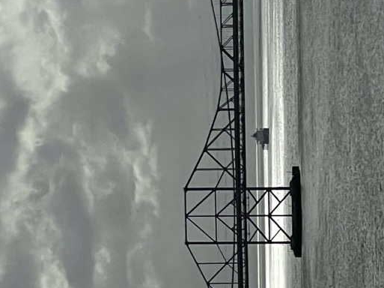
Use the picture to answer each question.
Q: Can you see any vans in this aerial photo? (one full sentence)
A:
No, no van is visible in the view.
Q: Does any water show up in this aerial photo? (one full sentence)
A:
Yes, water shows up in the scene.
